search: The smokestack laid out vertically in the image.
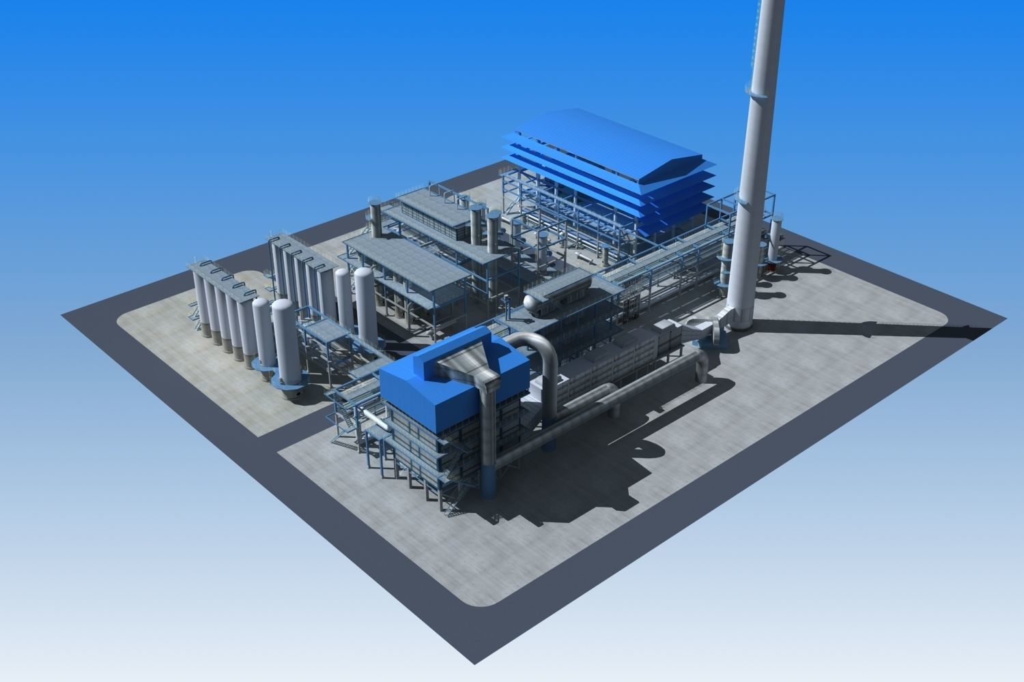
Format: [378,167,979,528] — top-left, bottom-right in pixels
[725,0,787,333]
